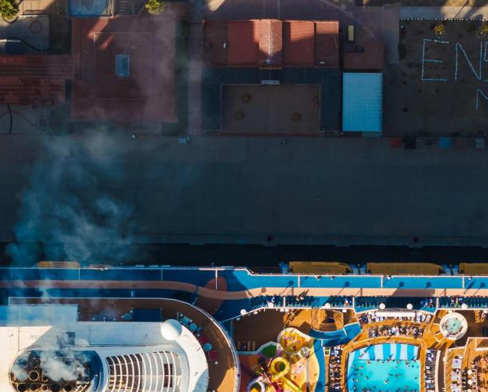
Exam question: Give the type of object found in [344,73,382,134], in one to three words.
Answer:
shed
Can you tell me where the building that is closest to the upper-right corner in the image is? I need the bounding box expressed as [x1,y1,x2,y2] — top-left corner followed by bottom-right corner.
[344,40,384,70]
